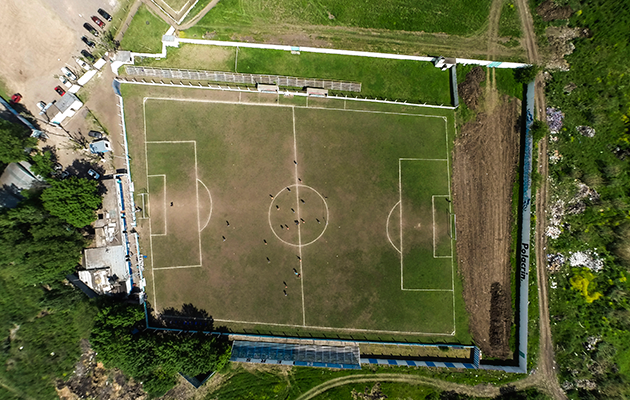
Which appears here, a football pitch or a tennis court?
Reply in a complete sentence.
This aerial view contains a football pitch.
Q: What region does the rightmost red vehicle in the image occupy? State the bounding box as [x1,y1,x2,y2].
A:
[90,15,106,28]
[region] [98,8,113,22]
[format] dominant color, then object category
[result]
black car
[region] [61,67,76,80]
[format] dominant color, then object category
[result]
white vehicle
